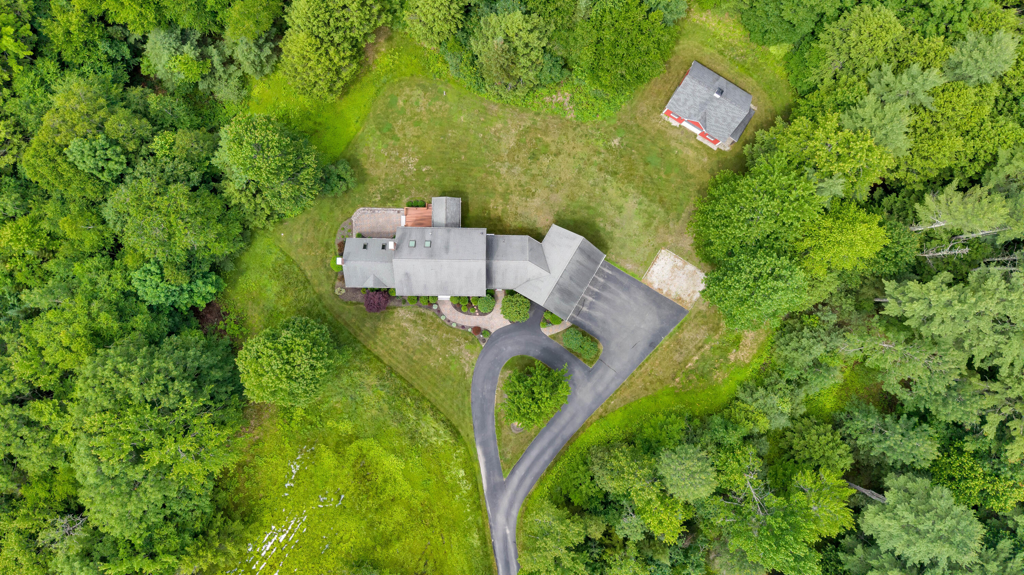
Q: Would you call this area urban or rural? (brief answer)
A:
rural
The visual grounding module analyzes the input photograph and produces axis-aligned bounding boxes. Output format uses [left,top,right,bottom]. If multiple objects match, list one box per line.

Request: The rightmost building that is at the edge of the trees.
[663,60,755,145]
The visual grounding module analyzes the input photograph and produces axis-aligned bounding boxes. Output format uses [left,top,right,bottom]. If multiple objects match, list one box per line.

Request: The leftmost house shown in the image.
[336,196,607,321]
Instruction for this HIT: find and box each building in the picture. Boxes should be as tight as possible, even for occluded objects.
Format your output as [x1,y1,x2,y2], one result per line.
[663,60,755,145]
[336,196,607,321]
